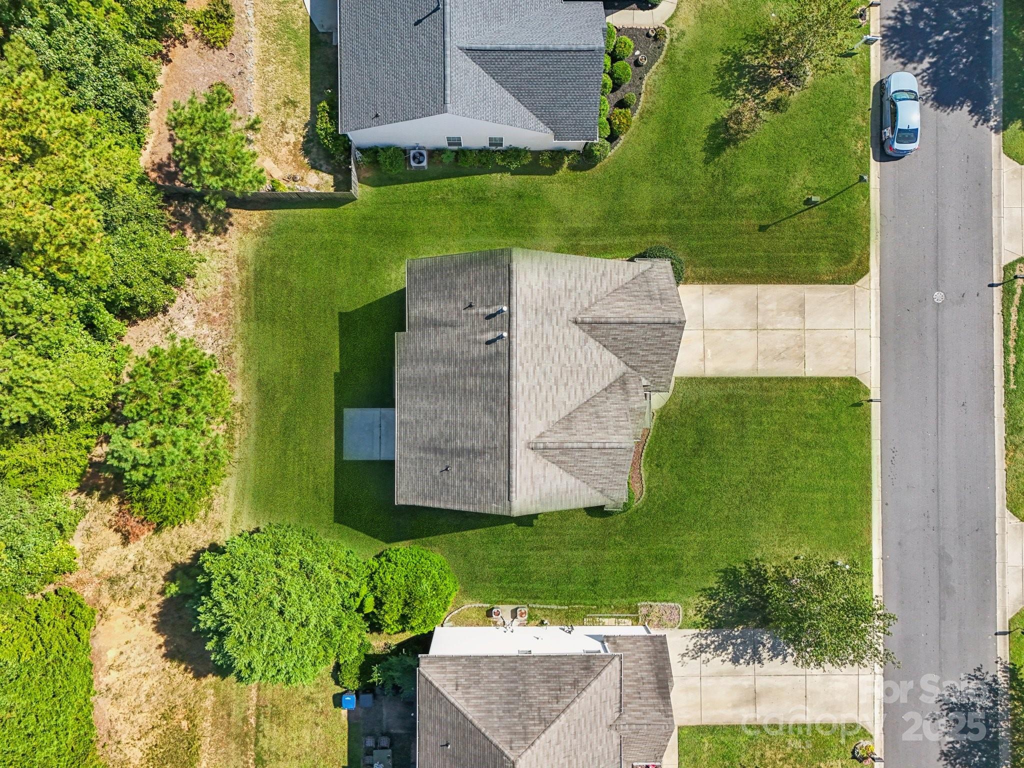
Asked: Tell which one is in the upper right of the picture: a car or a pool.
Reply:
car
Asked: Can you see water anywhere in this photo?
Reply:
No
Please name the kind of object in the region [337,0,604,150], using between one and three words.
house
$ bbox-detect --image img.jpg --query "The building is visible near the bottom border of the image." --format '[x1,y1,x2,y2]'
[415,624,675,768]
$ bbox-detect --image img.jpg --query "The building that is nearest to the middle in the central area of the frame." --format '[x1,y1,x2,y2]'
[394,248,685,517]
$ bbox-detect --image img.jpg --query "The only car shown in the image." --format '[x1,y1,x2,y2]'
[881,70,928,158]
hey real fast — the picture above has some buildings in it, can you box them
[337,0,604,150]
[394,248,685,517]
[415,624,675,768]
